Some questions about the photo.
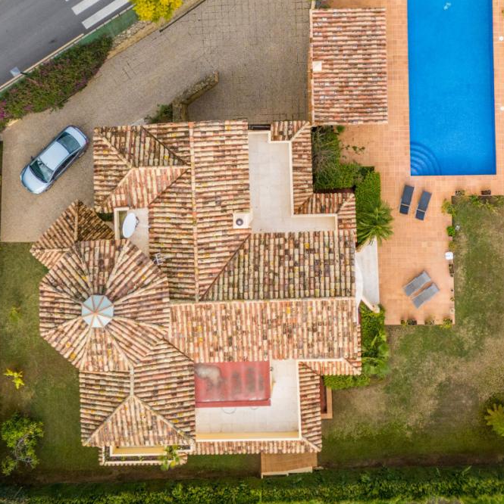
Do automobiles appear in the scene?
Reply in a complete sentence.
Yes, the photo shows an automobile.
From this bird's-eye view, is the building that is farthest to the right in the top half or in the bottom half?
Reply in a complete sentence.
The building that is farthest to the right is in the top half of the image.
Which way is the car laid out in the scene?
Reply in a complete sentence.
The car runs on a diagonal in the image.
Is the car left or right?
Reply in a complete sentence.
You can find the car on the left side of the picture.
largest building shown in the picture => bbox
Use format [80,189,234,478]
[30,117,380,469]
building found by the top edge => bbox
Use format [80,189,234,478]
[309,7,389,125]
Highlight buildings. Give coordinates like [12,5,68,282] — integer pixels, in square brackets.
[309,7,389,125]
[30,117,380,469]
